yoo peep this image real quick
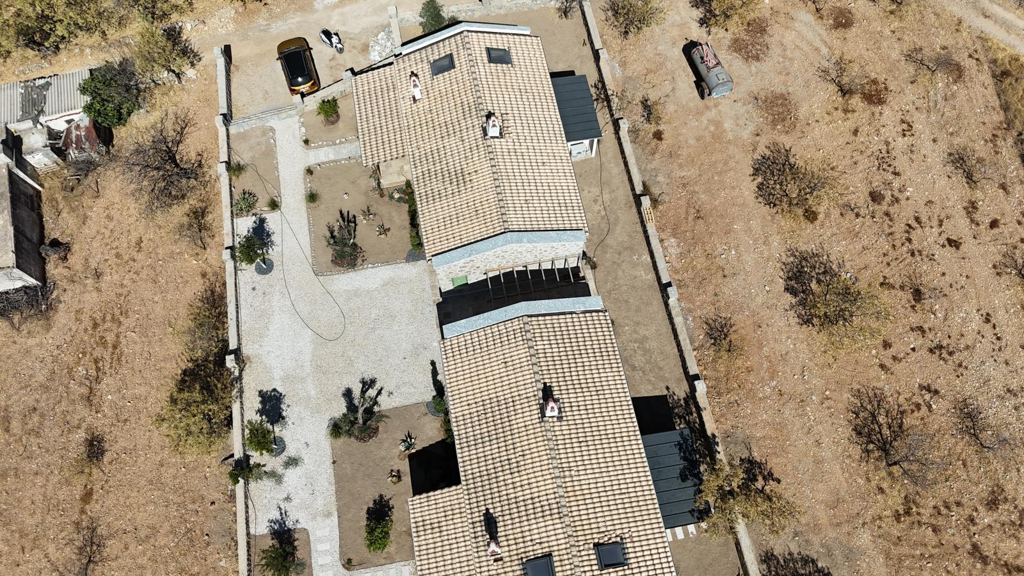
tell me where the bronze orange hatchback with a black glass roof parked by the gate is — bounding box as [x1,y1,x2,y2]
[280,39,322,99]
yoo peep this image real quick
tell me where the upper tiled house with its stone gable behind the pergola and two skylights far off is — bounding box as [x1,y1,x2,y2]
[351,20,590,292]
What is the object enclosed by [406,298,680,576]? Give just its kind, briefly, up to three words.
house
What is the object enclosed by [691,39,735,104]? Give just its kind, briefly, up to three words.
trailer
